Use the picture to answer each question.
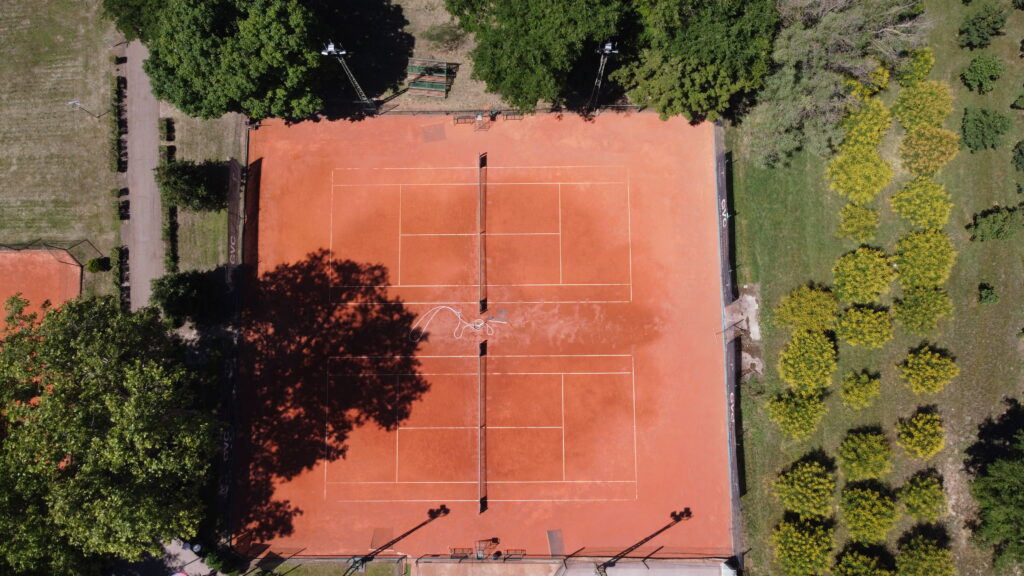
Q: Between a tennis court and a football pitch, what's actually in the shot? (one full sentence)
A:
There is a tennis court in the scene.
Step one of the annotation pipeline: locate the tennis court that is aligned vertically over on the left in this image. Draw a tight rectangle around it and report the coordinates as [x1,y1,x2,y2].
[0,249,81,567]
